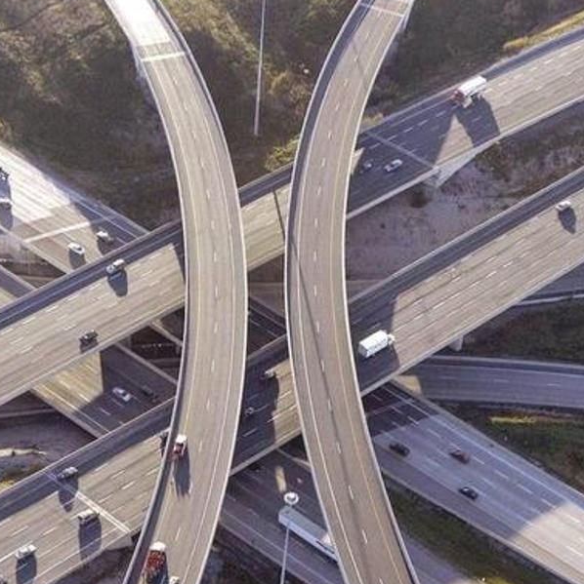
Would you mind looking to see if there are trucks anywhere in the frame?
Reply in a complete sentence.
Yes, the picture does show a truck.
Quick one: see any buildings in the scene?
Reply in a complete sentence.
No, this view has no building in it.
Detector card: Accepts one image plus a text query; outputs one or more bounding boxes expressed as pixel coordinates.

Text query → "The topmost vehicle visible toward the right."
[452,73,486,102]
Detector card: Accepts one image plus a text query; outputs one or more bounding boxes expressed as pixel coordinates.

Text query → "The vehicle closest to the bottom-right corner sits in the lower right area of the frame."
[456,484,481,502]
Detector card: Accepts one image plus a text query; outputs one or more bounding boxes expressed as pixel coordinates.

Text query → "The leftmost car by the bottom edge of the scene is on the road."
[11,543,39,562]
